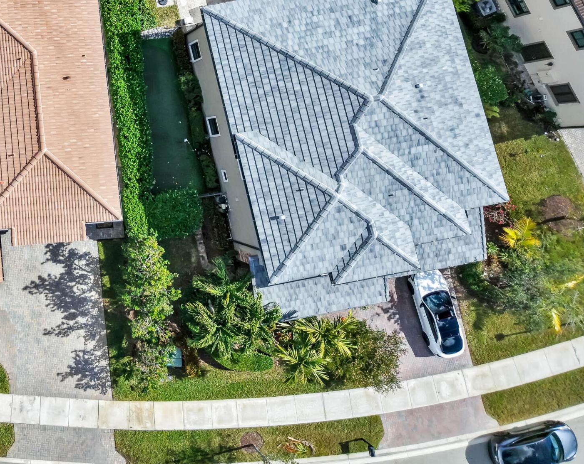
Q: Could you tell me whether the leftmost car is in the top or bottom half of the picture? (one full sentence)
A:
You can find the leftmost car in the bottom half.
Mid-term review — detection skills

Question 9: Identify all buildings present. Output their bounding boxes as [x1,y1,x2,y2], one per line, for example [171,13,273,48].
[0,0,123,282]
[183,0,511,326]
[492,0,584,152]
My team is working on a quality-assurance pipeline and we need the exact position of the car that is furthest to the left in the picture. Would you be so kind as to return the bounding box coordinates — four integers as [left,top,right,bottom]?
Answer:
[401,271,462,359]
